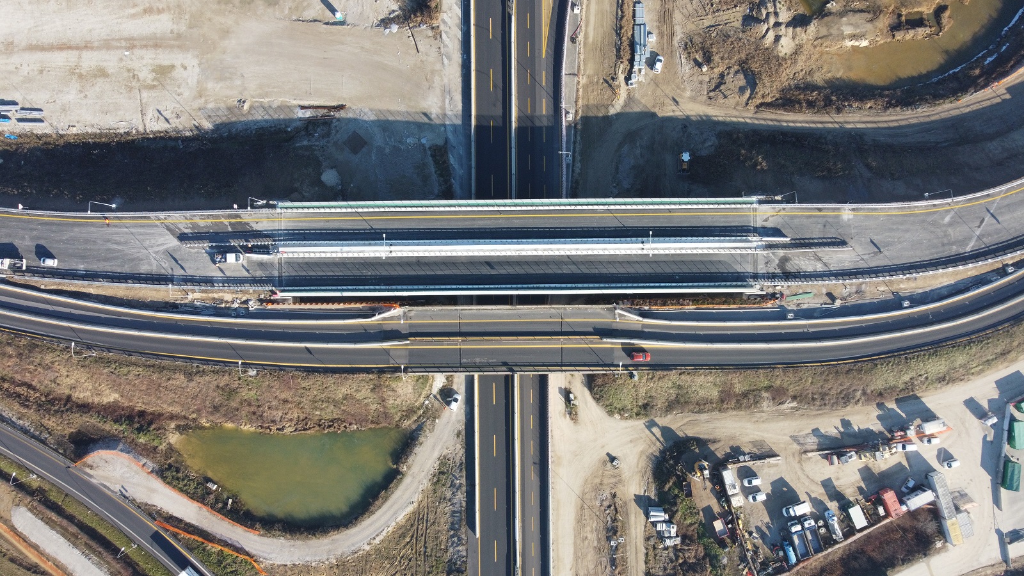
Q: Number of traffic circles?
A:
0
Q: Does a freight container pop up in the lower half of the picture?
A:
Yes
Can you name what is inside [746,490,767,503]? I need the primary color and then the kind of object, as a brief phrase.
white vehicle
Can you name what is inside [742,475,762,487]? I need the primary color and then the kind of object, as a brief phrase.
white vehicle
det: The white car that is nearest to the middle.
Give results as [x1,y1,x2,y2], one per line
[447,393,460,412]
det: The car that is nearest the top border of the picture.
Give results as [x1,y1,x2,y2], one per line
[651,55,664,75]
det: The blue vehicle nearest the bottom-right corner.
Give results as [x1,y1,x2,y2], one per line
[900,475,915,494]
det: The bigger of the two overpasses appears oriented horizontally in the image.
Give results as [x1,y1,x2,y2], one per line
[272,196,762,295]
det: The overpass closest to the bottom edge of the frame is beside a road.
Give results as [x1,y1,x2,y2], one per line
[404,305,618,374]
